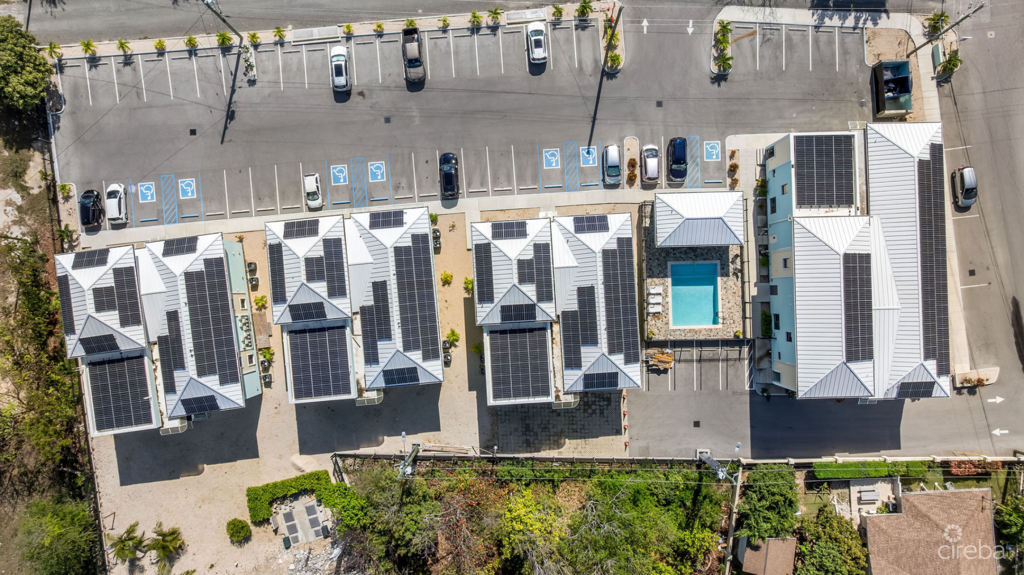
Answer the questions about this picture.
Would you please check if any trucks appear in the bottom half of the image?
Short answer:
No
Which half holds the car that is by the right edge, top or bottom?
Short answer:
top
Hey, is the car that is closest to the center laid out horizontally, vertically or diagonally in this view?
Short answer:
vertically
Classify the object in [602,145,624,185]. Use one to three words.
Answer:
car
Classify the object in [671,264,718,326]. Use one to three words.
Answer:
swimming pool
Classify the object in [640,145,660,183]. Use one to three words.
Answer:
car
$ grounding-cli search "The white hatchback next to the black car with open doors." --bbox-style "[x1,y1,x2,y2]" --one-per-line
[104,184,130,224]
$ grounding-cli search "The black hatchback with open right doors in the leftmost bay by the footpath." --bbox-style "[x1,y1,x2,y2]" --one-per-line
[77,191,107,228]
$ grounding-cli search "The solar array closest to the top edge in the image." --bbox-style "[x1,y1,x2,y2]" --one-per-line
[796,136,853,207]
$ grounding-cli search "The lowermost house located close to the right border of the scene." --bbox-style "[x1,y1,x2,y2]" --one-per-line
[857,485,999,575]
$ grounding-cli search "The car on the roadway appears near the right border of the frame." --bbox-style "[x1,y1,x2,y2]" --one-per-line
[949,167,976,206]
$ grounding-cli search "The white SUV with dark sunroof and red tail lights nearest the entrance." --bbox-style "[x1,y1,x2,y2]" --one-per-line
[526,22,548,65]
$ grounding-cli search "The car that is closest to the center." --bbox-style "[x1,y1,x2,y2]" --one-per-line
[437,153,460,200]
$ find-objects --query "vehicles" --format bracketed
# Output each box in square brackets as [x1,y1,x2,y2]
[401,27,425,83]
[640,145,660,183]
[526,22,548,65]
[949,167,976,206]
[327,46,353,92]
[77,191,107,228]
[303,173,324,209]
[602,145,624,185]
[437,153,460,200]
[104,184,130,224]
[667,137,690,182]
